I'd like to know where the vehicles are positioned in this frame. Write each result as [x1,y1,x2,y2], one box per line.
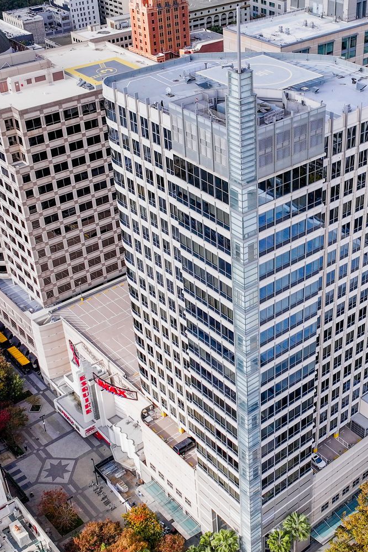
[173,438,194,454]
[312,453,328,467]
